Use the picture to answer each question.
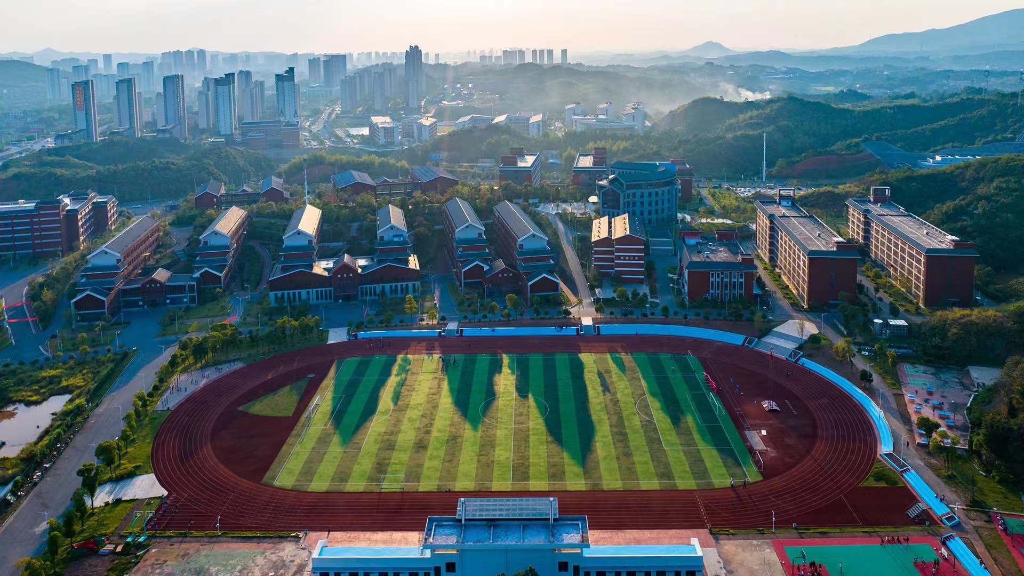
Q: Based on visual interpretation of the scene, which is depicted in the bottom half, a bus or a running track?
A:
running track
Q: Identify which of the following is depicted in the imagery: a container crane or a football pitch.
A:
football pitch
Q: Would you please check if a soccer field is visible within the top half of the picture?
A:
No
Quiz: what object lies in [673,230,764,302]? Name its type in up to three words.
building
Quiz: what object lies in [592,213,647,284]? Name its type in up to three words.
building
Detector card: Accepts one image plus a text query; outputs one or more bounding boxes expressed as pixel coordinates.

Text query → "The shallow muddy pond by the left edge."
[0,394,70,459]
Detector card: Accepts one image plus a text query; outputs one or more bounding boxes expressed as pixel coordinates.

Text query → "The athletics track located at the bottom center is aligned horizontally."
[112,336,934,531]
